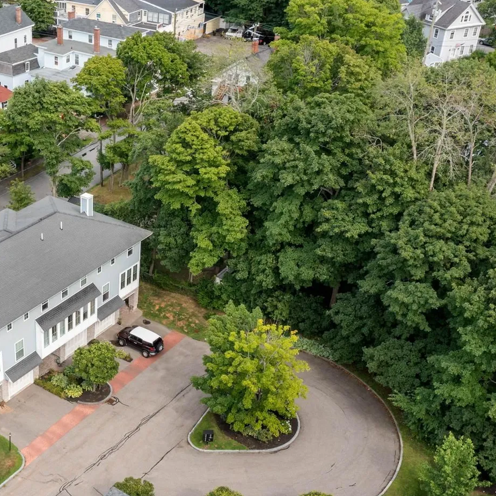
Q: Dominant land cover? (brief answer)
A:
trees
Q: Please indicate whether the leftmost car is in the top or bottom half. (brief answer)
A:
bottom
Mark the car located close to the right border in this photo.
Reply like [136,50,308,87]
[476,38,496,50]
